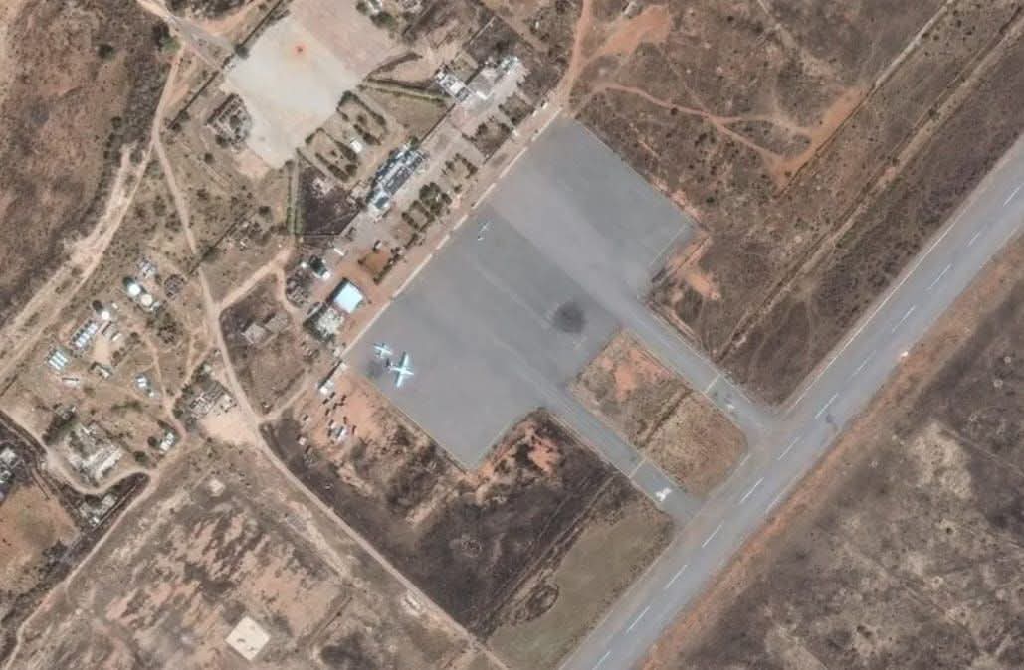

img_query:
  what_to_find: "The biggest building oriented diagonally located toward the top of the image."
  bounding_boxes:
[369,145,427,213]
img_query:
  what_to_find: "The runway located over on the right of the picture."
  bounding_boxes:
[559,144,1024,670]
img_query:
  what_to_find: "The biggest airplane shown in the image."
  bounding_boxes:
[388,354,414,387]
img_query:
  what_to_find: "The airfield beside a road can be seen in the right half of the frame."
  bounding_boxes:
[344,112,1024,670]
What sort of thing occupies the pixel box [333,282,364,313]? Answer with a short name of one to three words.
hangar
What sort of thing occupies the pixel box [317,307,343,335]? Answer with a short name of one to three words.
building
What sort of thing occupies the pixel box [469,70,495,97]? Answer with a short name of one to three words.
building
